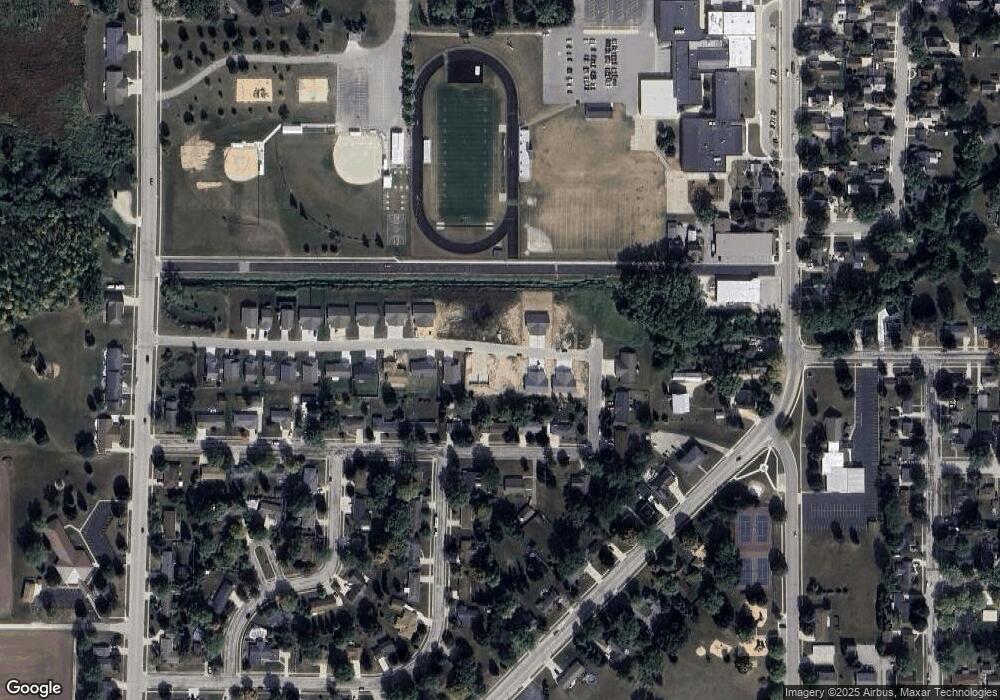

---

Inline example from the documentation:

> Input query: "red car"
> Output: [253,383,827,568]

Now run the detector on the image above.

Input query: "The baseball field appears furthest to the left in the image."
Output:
[224,144,260,182]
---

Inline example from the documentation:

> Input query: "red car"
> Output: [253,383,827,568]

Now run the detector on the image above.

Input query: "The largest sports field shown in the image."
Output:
[522,105,666,261]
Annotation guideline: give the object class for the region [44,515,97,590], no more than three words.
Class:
building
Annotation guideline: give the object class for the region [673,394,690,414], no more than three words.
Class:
barn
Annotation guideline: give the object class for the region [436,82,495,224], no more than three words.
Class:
sports field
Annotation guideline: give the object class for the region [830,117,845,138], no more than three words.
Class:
house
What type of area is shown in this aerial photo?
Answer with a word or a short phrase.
residential area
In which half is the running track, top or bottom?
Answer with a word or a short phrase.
top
